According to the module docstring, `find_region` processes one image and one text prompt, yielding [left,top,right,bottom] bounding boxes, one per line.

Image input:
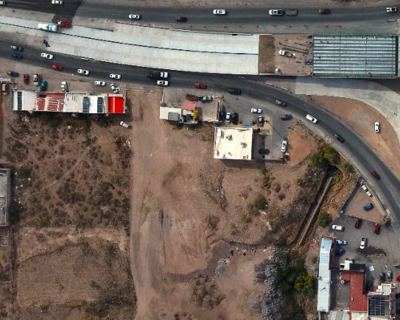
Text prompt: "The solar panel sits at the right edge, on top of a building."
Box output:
[369,297,384,317]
